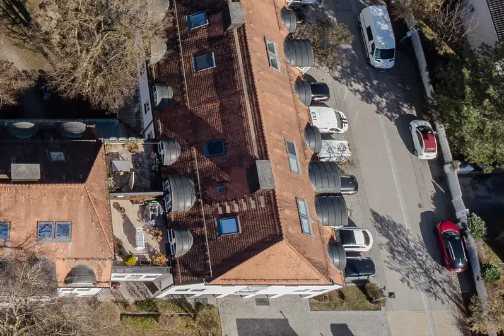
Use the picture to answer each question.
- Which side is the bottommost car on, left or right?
right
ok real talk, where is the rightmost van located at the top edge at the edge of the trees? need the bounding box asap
[356,4,393,75]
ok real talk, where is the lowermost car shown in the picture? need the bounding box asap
[344,258,388,285]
